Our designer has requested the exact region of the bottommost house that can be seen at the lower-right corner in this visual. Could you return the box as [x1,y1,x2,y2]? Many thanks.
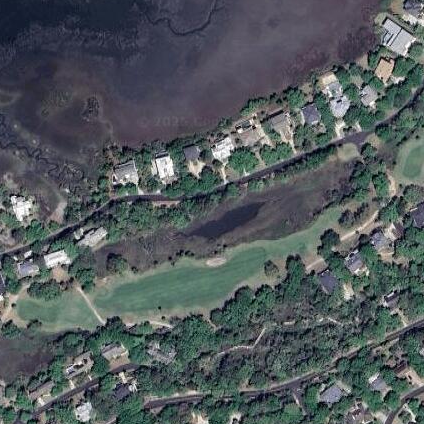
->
[345,403,372,424]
